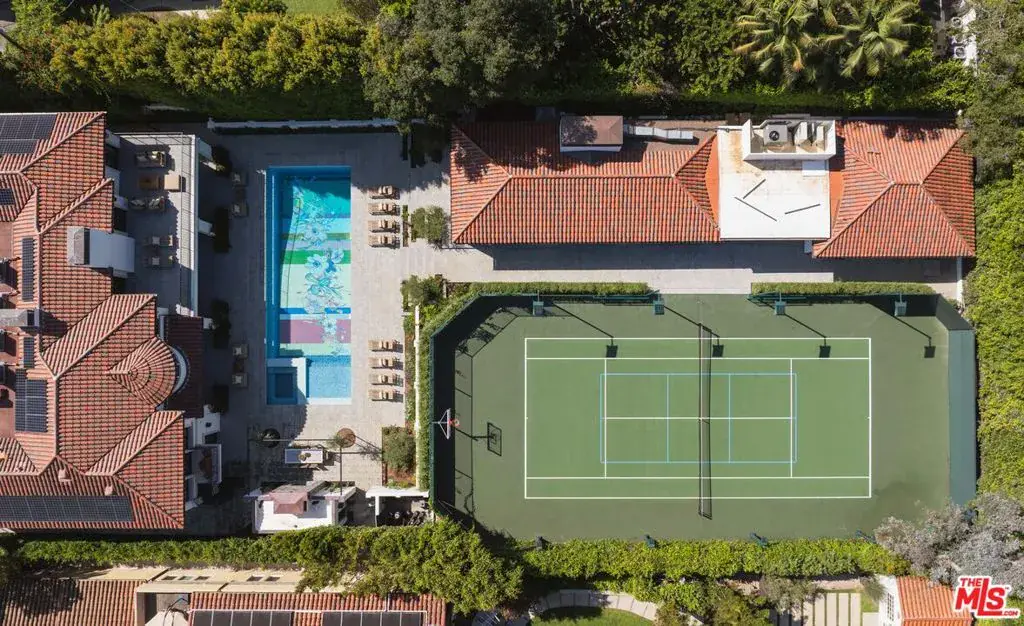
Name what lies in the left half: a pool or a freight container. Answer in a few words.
pool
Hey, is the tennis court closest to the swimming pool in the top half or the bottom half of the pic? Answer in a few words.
bottom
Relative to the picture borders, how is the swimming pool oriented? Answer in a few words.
from top to bottom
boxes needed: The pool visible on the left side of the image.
[264,164,353,406]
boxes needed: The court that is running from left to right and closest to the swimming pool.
[436,296,949,542]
